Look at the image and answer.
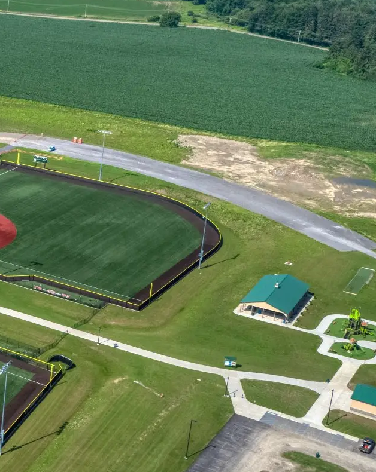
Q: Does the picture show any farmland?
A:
Yes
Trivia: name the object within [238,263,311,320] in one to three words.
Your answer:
building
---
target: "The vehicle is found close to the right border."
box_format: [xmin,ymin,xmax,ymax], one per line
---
[359,429,376,450]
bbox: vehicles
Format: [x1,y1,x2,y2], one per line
[359,429,376,450]
[44,141,59,149]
